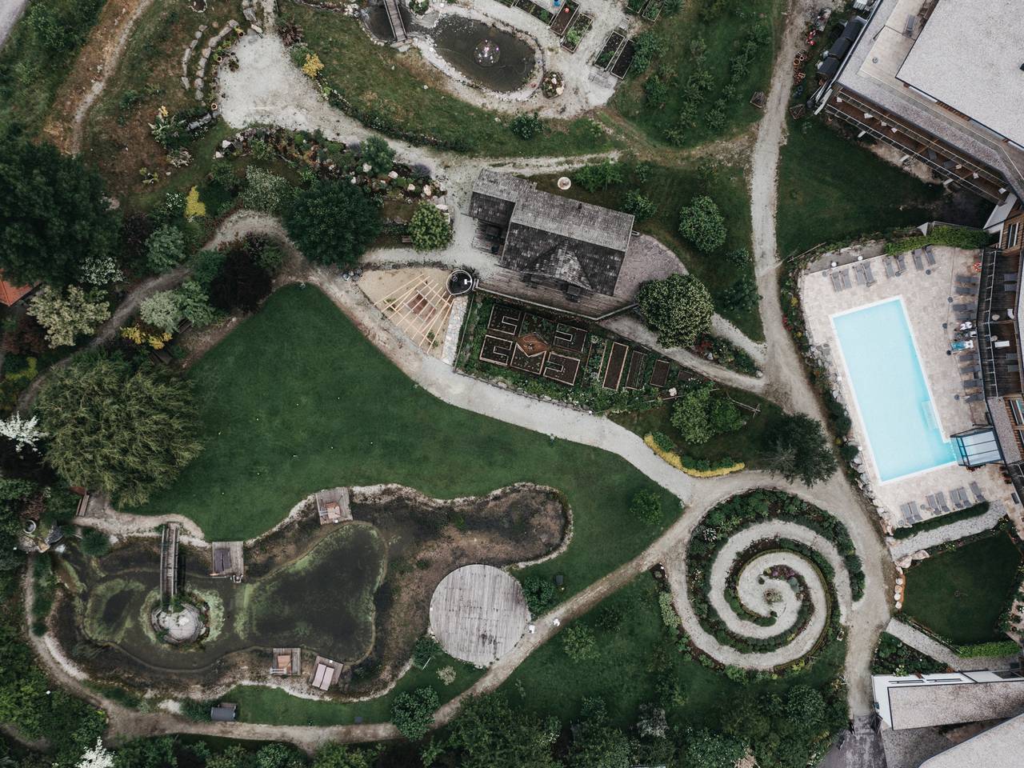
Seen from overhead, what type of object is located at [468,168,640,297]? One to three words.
house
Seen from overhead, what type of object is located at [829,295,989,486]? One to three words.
swimming pool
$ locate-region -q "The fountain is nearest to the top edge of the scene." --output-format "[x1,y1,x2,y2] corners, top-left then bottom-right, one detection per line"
[473,40,500,67]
